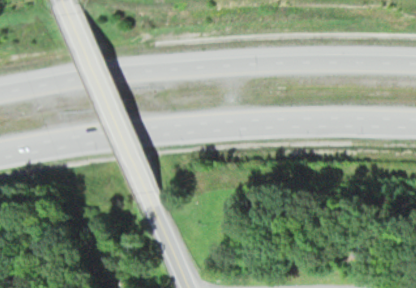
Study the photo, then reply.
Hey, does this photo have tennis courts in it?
No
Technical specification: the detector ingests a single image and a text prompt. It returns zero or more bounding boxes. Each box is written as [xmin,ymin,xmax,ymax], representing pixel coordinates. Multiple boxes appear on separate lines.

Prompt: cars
[86,126,96,132]
[18,147,30,152]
